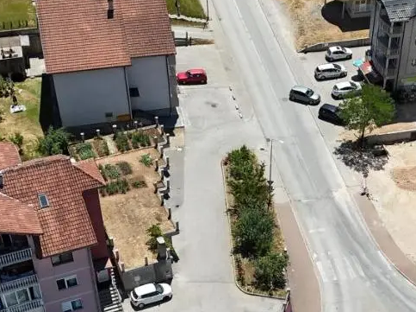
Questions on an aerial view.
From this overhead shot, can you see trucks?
No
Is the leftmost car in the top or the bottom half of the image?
bottom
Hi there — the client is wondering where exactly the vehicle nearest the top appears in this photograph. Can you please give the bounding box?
[323,46,355,63]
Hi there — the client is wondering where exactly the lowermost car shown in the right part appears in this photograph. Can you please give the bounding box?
[316,99,352,123]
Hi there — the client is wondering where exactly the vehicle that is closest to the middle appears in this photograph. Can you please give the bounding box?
[176,67,208,85]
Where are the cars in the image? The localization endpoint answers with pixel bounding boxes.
[315,62,348,80]
[331,79,362,98]
[287,83,321,105]
[323,46,355,63]
[316,99,352,123]
[176,67,208,85]
[126,280,176,309]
